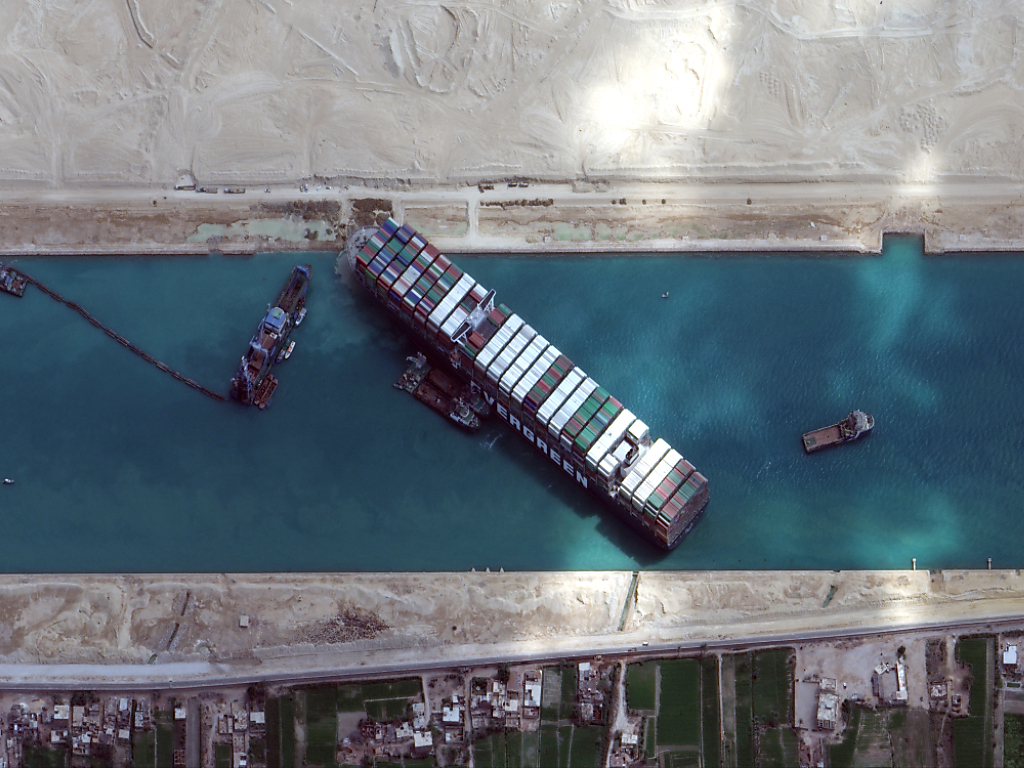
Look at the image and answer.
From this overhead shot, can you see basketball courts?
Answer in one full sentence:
No, the photo shows no basketball court.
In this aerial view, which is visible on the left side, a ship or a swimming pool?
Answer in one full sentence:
It is a ship that can be seen on the left side.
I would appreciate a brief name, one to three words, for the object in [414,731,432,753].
house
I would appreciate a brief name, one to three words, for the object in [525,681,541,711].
house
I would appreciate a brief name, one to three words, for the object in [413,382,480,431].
ship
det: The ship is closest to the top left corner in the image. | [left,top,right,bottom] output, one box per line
[0,258,30,301]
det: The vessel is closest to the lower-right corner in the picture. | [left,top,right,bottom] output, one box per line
[803,410,875,456]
